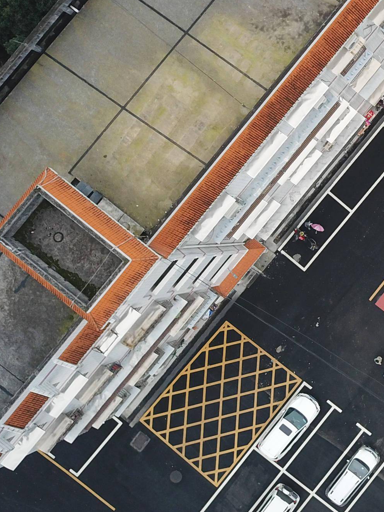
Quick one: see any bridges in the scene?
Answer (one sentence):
No, I can't see a single bridge in this photo.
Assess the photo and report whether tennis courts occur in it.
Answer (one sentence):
No, I find no tennis court anywhere in the image.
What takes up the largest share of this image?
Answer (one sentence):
The scene is dominated by buildings.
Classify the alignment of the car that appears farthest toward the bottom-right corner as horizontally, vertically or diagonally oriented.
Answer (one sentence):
The car that appears farthest toward the bottom-right corner is laid out diagonally.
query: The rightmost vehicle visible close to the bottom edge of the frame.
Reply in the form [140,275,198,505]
[323,443,381,510]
